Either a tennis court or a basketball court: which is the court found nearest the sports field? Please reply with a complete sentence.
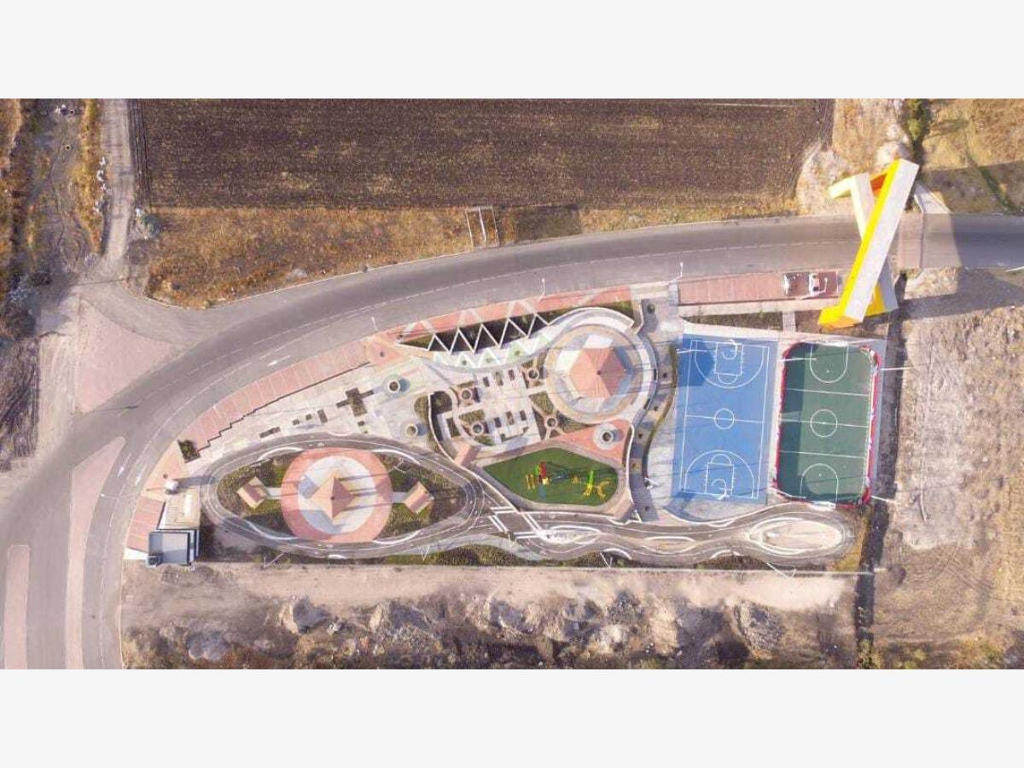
The court found nearest the sports field can be classified as a basketball court.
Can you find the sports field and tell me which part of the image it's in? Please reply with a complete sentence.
The sports field appears toward the right of the photo.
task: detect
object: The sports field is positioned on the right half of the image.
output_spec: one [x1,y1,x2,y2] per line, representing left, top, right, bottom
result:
[778,343,881,508]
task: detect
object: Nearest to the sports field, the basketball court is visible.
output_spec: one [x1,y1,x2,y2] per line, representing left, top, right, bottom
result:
[665,334,779,520]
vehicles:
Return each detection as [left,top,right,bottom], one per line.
[808,273,820,296]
